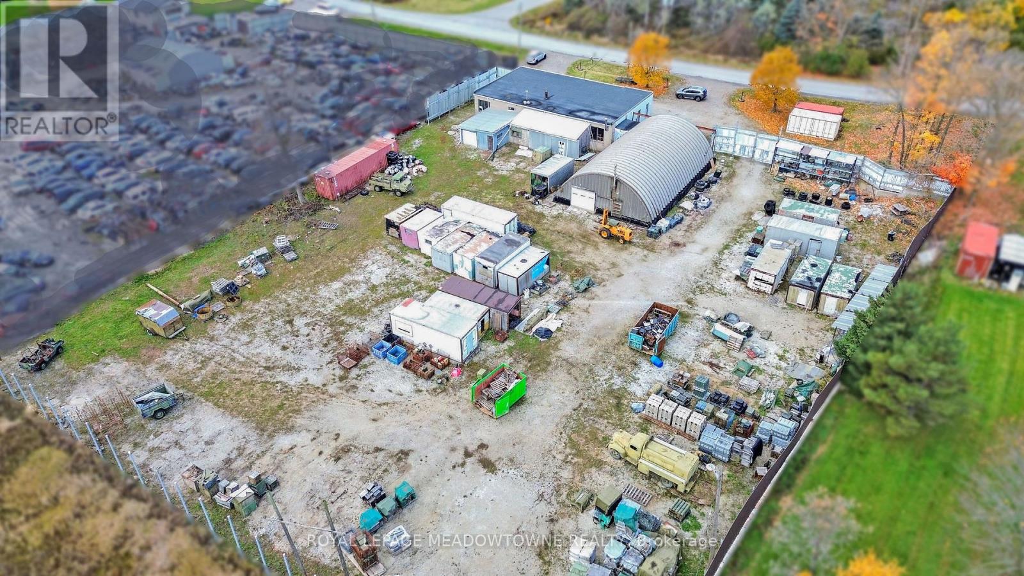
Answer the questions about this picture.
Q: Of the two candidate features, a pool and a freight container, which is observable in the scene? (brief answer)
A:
freight container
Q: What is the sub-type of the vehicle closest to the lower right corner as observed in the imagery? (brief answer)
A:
truck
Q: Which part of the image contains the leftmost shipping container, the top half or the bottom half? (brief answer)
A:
top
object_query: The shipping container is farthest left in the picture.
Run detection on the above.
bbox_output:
[310,138,404,196]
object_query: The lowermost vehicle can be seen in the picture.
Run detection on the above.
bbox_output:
[606,427,703,495]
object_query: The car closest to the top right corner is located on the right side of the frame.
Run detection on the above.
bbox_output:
[674,86,707,101]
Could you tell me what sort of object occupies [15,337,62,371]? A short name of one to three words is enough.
car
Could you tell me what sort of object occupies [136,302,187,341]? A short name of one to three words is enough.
trailer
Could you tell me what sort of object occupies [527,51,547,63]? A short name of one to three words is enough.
vehicle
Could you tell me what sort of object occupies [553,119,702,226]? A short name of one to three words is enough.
shed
